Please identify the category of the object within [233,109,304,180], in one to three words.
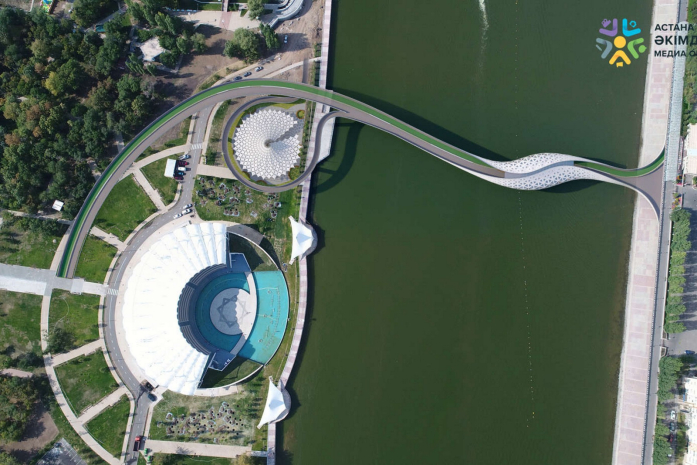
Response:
building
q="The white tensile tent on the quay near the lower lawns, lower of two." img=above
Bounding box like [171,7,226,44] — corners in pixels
[257,375,289,428]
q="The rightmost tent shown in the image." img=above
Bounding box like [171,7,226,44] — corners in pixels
[290,216,316,264]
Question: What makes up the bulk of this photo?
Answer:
water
